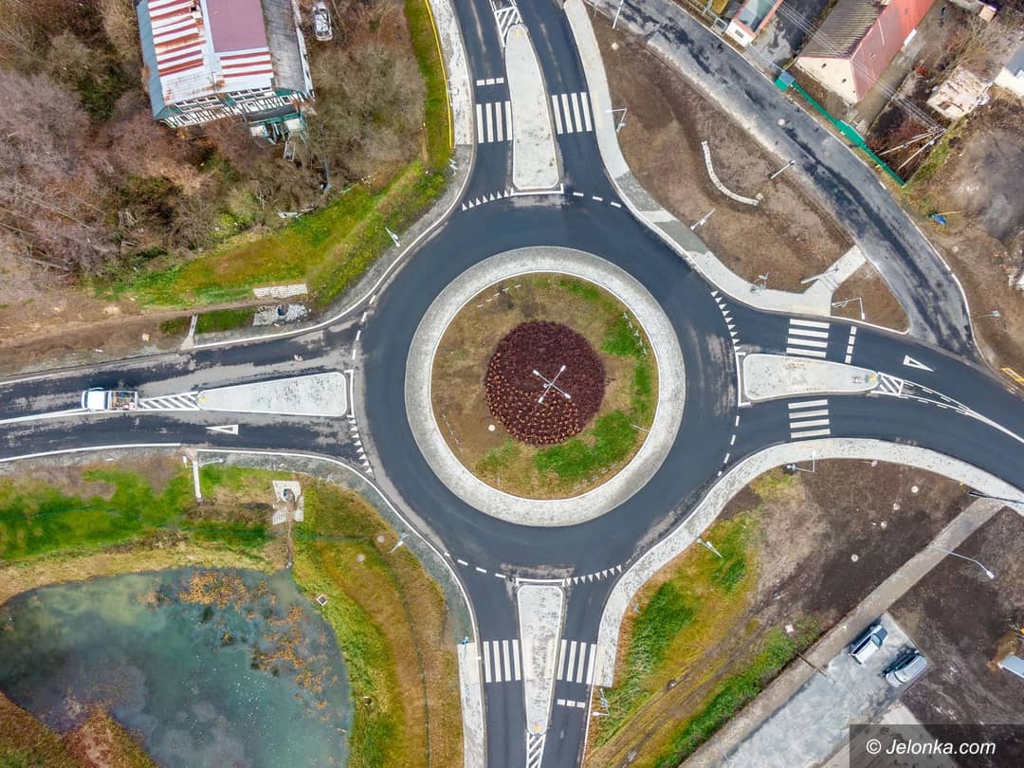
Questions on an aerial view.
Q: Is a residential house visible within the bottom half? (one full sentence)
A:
No, there is no residential house within the bottom half.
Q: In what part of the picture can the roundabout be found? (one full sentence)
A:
You can find the roundabout in the center area of the picture.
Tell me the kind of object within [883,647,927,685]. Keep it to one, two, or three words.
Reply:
car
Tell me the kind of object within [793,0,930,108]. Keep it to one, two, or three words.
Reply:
house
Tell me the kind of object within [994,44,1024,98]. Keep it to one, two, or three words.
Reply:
house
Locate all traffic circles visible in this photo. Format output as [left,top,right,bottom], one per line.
[344,184,751,587]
